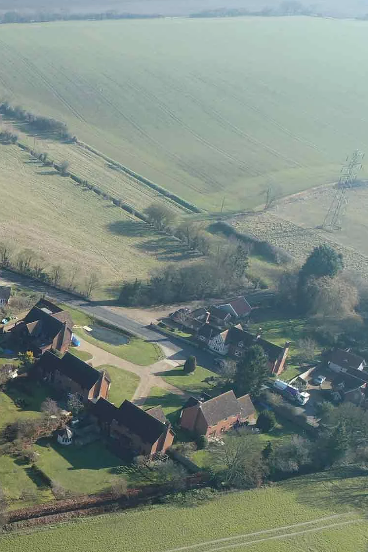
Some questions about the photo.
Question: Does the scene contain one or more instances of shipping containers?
No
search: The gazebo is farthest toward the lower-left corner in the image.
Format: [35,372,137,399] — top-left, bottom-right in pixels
[58,427,75,447]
